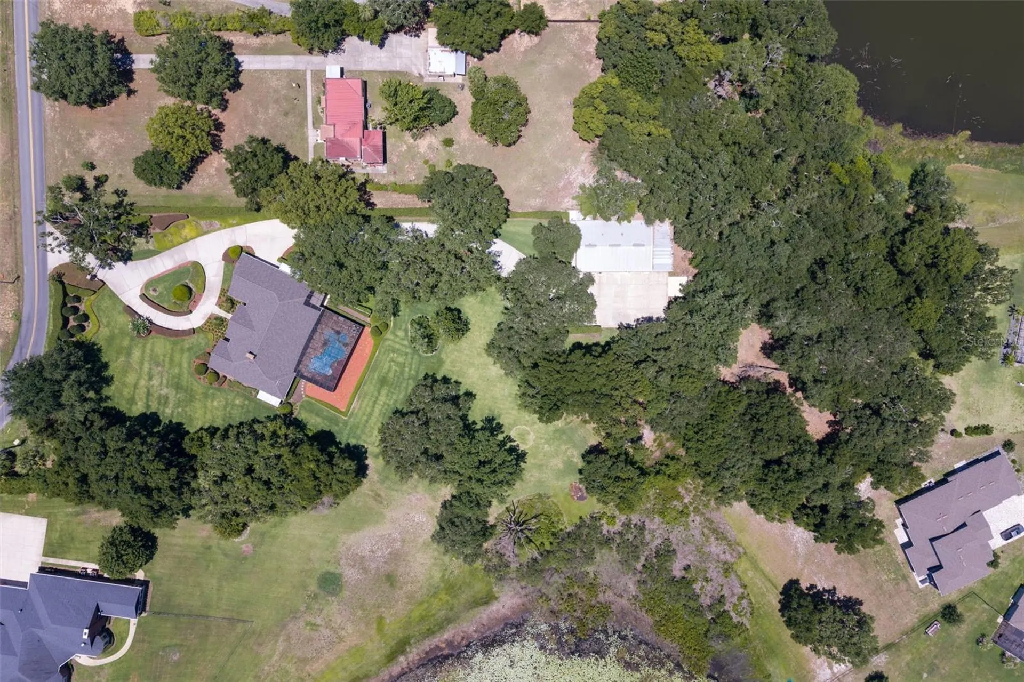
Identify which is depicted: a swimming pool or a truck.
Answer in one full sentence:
The one in the frame is a swimming pool.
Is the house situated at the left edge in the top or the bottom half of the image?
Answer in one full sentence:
The house situated at the left edge sits in the bottom half of the picture.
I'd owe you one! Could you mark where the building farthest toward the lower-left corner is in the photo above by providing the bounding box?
[0,572,147,682]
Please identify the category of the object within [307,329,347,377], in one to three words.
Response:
swimming pool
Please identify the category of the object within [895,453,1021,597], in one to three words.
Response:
house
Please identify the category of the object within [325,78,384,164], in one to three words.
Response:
house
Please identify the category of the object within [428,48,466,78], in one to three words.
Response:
shed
